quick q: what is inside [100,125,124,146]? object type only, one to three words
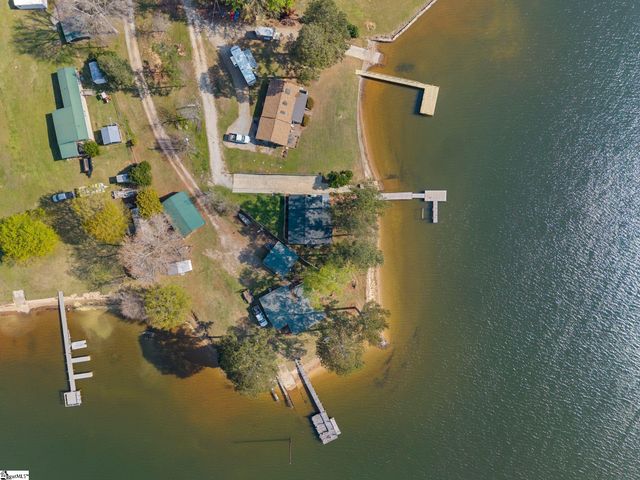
shed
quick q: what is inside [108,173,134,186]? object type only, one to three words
vehicle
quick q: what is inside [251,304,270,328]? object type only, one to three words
vehicle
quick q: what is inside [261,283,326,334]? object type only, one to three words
house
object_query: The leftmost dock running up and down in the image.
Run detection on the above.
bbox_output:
[56,291,94,408]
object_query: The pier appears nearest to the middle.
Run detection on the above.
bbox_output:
[380,189,447,222]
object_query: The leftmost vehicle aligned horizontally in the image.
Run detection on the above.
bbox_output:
[51,191,78,204]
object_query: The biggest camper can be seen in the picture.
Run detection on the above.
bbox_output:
[230,44,260,91]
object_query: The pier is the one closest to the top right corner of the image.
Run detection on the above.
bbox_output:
[356,68,439,117]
